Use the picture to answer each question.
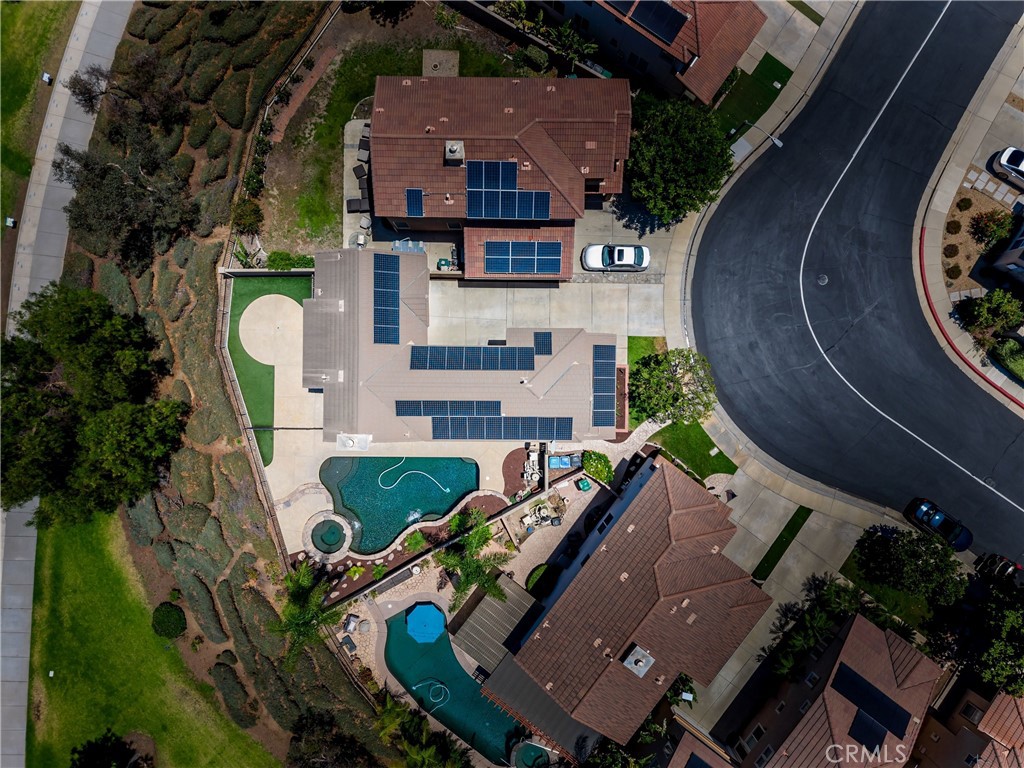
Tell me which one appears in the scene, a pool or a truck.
pool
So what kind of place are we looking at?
residential area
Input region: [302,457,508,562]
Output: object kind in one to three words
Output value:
swimming pool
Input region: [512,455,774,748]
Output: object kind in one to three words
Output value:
house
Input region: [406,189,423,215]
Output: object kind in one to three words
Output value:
solar panel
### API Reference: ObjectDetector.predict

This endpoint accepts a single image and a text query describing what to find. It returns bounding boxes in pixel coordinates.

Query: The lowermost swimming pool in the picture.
[374,589,555,768]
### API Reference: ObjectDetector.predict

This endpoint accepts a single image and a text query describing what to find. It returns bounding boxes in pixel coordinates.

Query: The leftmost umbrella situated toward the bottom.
[407,600,445,642]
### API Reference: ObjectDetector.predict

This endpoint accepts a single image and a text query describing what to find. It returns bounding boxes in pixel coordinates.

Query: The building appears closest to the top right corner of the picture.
[992,226,1024,290]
